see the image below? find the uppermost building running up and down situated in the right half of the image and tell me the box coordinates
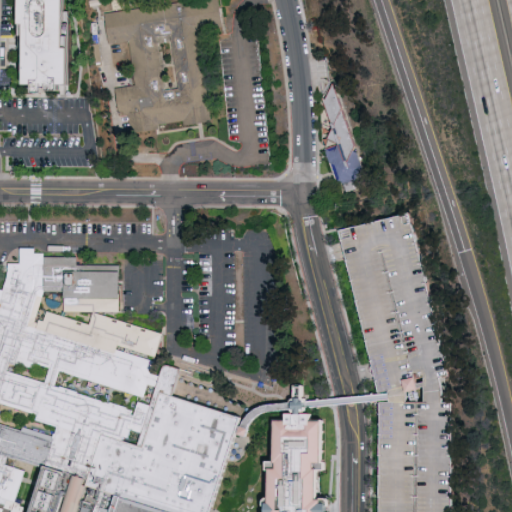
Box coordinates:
[324,84,342,127]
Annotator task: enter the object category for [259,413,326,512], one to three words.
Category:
building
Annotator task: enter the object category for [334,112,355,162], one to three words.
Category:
building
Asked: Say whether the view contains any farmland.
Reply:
No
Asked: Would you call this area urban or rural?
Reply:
urban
